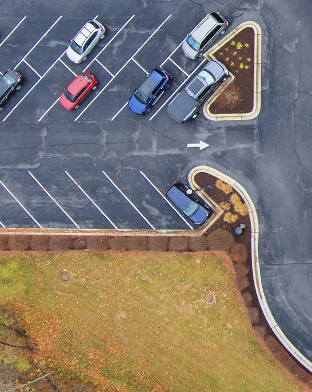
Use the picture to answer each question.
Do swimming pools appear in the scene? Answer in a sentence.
No, I can see no swimming pool in this picture.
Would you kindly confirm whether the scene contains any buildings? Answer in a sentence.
No, I find no building anywhere in the image.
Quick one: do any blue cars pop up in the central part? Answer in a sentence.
Yes, a blue car can be seen in the central part.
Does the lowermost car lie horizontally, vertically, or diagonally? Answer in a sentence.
Seen from above, the lowermost car lies diagonally.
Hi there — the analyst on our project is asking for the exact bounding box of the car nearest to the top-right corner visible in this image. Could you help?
[182,10,229,60]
